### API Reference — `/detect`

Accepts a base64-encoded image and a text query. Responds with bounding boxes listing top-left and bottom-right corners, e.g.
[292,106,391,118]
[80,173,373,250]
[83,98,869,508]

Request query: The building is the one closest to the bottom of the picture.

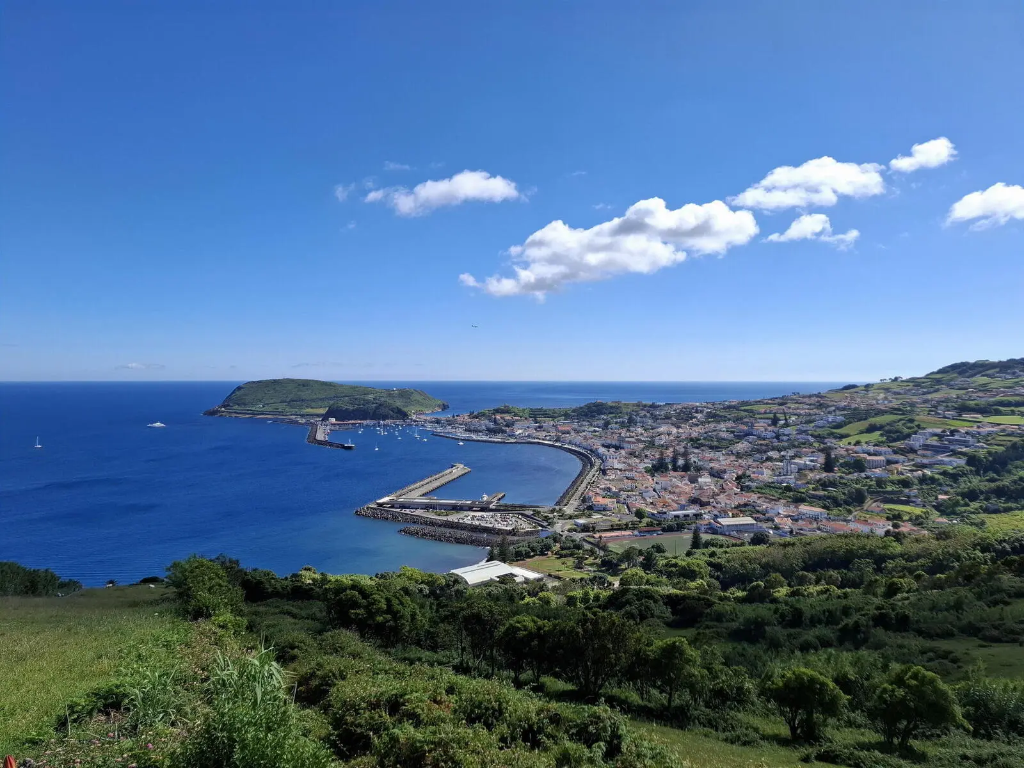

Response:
[443,560,552,586]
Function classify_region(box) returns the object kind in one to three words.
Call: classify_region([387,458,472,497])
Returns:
pier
